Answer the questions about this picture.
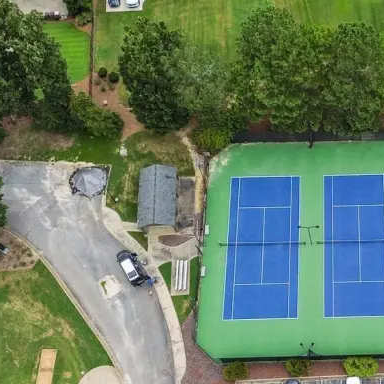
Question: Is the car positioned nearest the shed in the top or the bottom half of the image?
bottom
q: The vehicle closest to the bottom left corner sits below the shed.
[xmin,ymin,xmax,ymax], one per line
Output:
[119,250,150,287]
